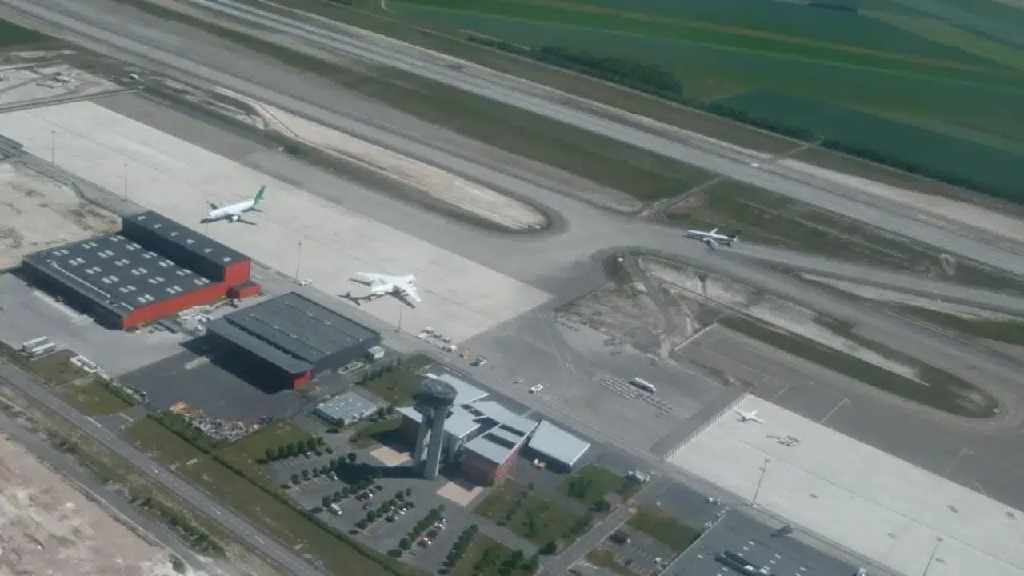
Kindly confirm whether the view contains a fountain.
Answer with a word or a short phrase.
No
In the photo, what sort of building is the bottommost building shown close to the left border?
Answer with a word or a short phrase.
warehouse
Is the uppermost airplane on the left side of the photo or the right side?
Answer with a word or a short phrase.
left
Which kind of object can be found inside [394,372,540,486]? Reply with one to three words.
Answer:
building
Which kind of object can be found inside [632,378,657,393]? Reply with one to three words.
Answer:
vehicle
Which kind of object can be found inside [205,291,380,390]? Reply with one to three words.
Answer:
hangar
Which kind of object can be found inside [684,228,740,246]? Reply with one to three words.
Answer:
airplane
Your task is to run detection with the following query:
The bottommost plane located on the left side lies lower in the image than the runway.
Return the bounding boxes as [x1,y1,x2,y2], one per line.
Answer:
[354,272,418,302]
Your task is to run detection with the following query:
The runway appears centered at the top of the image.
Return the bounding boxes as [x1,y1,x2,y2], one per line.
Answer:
[198,0,1024,274]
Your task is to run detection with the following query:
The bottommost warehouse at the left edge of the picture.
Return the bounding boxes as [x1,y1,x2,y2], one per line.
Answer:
[24,209,250,331]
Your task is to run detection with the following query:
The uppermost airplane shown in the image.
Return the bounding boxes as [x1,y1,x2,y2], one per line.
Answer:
[206,186,265,221]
